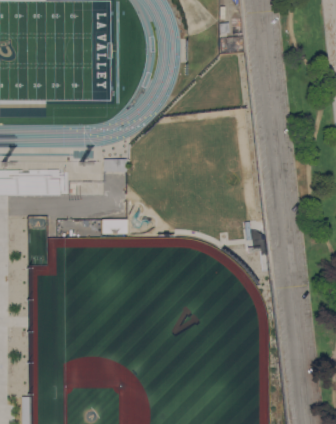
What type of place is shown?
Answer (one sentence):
The area seen from above is a sports ground.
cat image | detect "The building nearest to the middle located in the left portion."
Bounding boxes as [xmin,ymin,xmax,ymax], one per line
[100,219,128,234]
